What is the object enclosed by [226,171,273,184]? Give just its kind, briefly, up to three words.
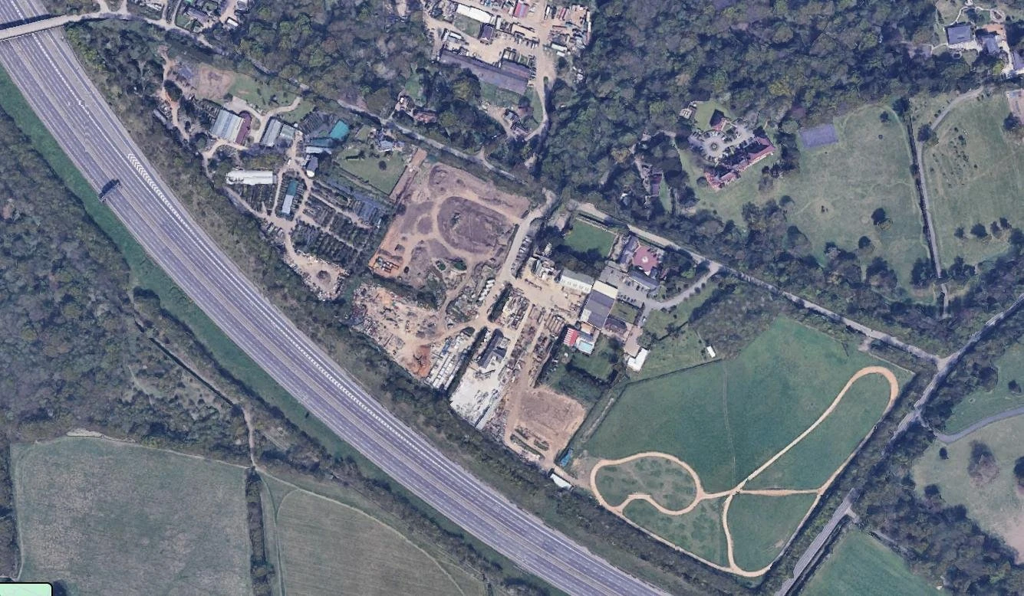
greenhouse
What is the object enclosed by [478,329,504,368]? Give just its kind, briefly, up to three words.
building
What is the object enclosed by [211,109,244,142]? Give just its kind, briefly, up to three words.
barn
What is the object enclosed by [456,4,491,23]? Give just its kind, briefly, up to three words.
shed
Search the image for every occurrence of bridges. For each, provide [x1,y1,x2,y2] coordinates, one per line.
[0,10,86,39]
